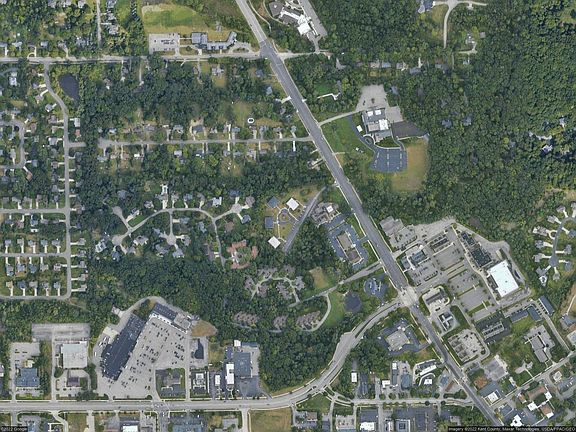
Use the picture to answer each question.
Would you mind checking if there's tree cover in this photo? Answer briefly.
Yes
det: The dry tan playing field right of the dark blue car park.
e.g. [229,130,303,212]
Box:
[399,145,427,190]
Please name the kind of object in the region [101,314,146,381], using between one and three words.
building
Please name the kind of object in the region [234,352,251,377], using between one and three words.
building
